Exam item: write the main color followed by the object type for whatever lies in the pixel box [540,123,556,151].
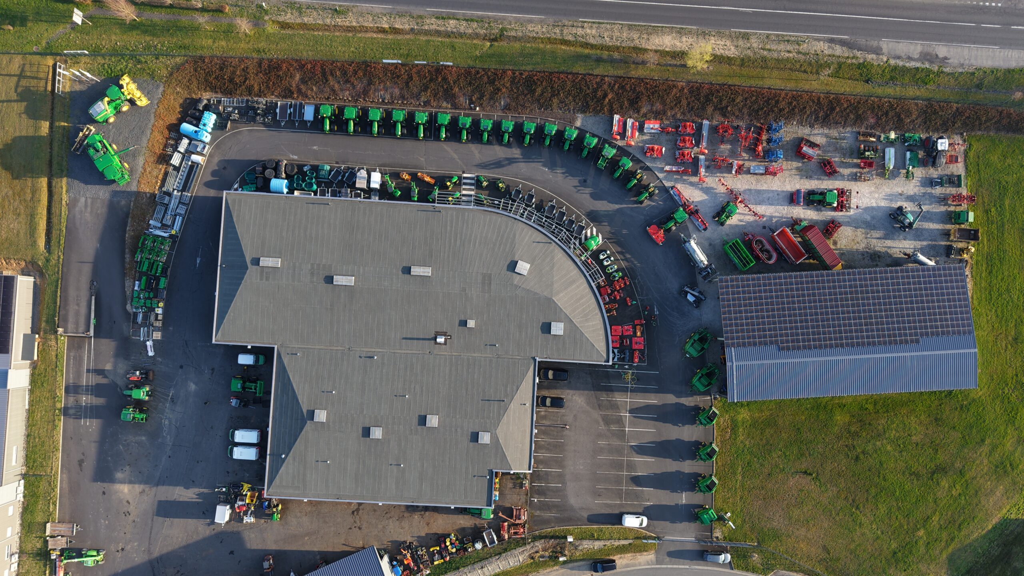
green work vehicle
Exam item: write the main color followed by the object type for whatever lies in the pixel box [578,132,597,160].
green work vehicle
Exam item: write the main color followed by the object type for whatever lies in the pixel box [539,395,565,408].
black vehicle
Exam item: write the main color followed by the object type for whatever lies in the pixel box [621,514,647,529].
white vehicle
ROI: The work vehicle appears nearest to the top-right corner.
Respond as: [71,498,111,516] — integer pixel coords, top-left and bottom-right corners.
[922,136,950,172]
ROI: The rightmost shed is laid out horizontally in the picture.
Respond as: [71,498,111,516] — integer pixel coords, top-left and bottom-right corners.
[711,263,978,402]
